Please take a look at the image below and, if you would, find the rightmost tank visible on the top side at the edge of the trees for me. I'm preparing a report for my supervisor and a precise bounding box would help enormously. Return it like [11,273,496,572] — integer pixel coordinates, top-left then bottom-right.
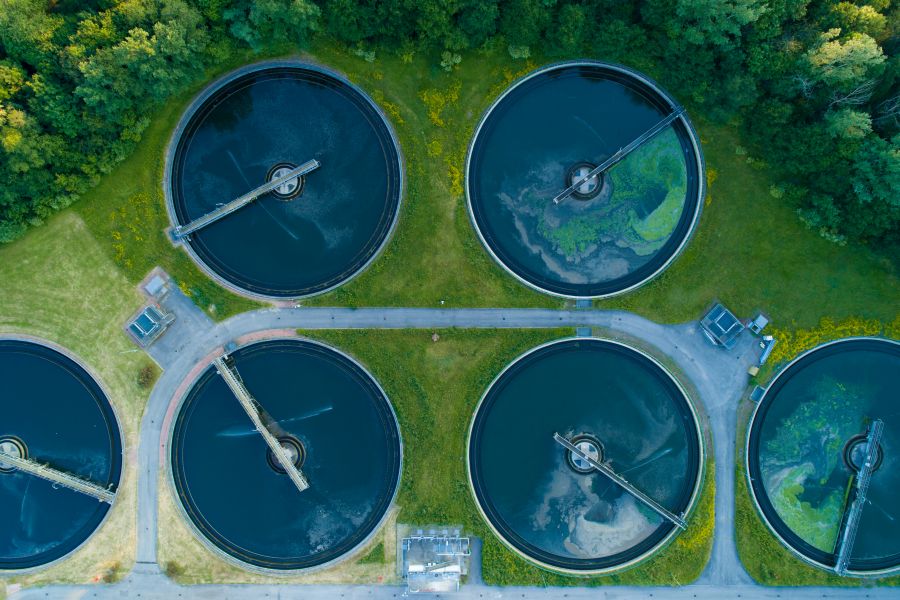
[463,59,707,302]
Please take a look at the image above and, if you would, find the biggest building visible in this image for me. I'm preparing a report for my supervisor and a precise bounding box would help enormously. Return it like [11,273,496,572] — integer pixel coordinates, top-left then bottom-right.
[403,531,469,592]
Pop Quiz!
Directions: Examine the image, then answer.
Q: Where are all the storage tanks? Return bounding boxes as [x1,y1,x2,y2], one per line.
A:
[463,59,707,302]
[739,332,900,577]
[0,334,127,575]
[463,333,707,576]
[164,61,405,301]
[169,335,406,572]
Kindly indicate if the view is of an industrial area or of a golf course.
industrial area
